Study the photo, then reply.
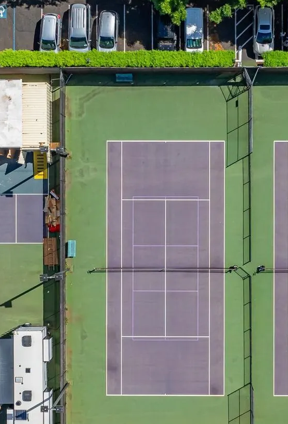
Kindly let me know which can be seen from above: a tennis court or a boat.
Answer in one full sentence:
There is a tennis court in the scene.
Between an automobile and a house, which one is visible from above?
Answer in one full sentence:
Visible in the photo is an automobile.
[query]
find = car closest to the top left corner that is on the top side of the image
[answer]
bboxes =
[38,12,62,54]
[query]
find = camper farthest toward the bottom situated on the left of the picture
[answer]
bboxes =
[0,322,55,424]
